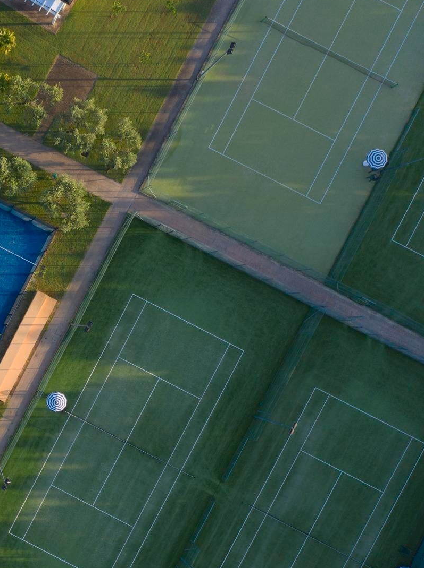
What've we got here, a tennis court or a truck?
tennis court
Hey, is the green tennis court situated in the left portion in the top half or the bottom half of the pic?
bottom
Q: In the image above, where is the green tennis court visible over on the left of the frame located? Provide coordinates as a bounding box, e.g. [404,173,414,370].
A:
[0,215,307,568]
